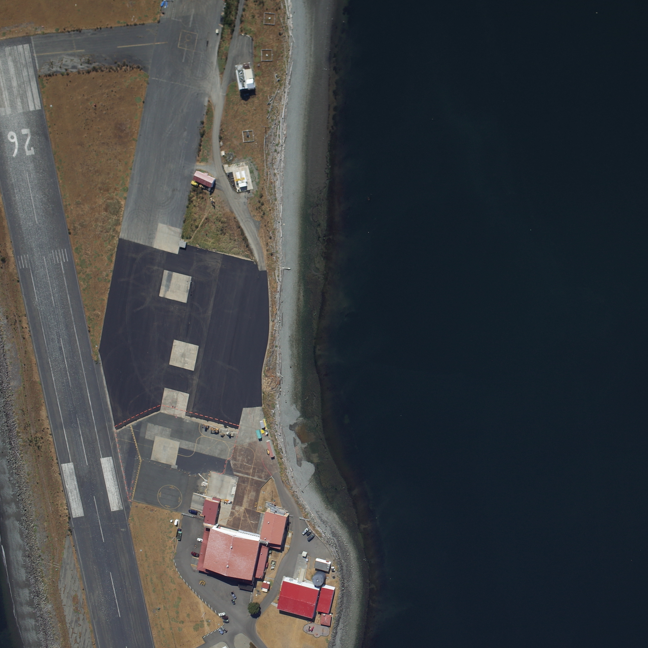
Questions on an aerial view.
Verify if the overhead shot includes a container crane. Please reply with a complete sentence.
No, I find no container crane anywhere in the image.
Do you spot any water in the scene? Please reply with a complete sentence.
Yes, the picture does contain water.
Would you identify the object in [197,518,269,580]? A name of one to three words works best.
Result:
hangar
